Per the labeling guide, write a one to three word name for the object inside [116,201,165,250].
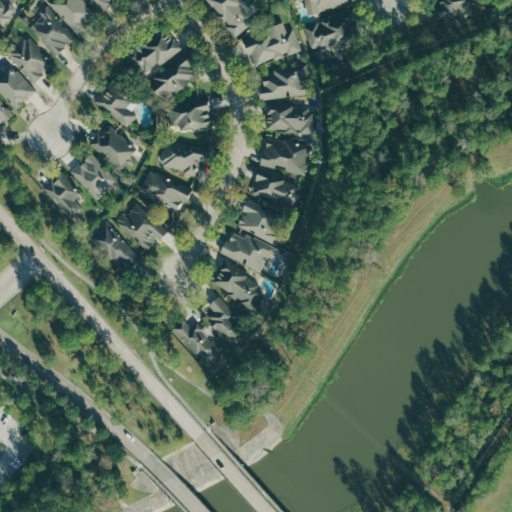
house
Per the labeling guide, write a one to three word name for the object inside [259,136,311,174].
house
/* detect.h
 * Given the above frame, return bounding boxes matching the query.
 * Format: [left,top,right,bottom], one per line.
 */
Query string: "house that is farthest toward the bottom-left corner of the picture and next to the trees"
[170,317,218,358]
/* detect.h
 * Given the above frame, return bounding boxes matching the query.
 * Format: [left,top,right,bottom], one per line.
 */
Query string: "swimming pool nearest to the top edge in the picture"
[296,6,320,25]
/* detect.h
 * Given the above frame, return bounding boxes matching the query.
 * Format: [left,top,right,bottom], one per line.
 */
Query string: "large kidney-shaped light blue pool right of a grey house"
[134,102,153,128]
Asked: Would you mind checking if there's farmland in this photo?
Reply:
No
